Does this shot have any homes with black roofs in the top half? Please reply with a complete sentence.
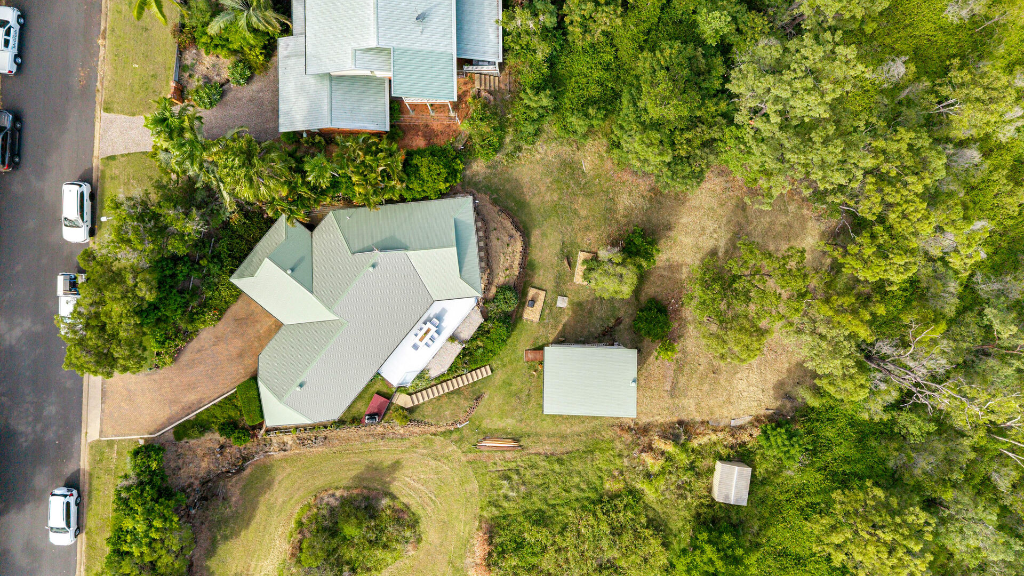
No, no home with a black roof appears in the top half.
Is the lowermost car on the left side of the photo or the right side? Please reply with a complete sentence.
It is on the left.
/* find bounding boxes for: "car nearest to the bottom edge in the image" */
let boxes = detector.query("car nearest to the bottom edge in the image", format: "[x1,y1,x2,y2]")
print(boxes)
[46,486,83,546]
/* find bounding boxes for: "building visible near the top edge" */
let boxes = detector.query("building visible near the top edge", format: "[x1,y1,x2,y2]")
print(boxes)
[278,0,503,136]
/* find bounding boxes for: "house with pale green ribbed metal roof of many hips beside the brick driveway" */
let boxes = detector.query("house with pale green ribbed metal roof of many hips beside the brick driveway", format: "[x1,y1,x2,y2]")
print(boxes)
[229,195,483,428]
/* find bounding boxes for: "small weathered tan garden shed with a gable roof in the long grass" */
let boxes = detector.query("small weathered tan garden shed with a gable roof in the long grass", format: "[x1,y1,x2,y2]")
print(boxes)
[712,457,751,506]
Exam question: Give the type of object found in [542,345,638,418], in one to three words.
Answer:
shed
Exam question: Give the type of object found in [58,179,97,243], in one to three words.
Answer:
car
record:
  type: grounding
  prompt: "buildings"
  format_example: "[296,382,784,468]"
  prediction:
[229,195,483,428]
[278,0,503,136]
[712,457,751,506]
[542,345,638,418]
